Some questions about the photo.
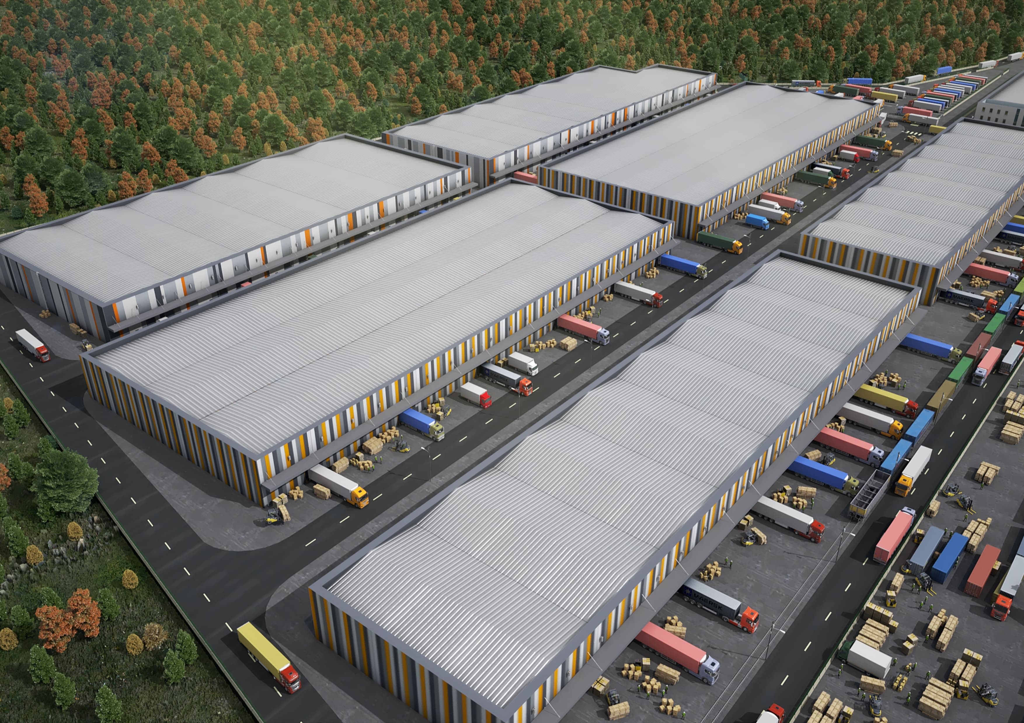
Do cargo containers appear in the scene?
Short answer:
Yes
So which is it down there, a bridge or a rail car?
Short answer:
rail car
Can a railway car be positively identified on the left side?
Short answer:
No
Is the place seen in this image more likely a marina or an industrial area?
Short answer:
industrial area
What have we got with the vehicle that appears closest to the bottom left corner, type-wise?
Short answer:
truck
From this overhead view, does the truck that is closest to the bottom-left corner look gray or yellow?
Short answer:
yellow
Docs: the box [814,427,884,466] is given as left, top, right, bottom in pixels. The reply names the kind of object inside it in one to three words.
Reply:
truck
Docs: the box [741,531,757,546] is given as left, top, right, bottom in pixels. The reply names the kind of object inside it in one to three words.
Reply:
work vehicle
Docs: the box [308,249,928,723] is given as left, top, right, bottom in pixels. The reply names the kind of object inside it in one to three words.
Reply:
warehouse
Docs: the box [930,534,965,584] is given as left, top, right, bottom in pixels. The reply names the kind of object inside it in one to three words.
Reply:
shipping container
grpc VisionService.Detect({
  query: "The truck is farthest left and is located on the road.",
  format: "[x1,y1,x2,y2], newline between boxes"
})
[15,328,52,362]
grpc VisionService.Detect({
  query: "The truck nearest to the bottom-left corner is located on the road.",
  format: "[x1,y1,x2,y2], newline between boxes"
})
[236,621,303,694]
